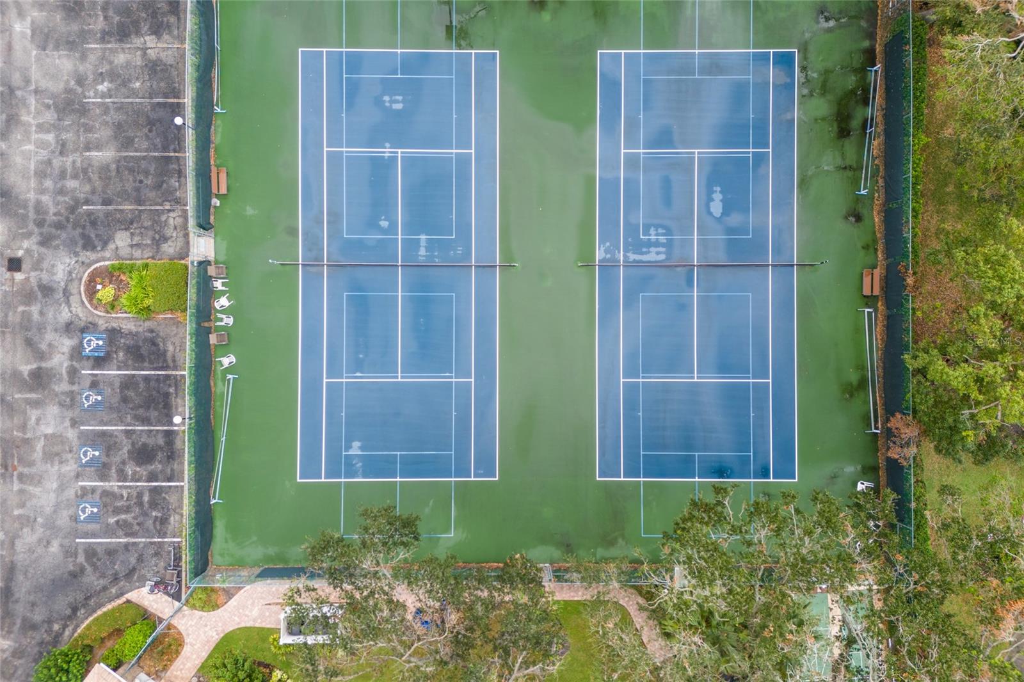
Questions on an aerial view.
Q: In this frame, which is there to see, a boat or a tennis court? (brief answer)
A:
tennis court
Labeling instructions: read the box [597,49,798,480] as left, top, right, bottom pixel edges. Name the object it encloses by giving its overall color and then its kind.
blue tennis court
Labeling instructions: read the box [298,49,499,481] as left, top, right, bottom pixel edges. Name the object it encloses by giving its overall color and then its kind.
blue tennis court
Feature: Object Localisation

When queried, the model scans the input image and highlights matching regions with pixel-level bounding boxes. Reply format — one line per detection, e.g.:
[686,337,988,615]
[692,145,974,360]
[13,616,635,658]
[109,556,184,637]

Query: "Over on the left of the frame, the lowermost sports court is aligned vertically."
[341,293,456,536]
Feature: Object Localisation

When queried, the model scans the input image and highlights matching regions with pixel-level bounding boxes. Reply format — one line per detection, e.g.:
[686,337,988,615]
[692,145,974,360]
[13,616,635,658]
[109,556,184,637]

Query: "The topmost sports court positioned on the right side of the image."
[640,0,754,238]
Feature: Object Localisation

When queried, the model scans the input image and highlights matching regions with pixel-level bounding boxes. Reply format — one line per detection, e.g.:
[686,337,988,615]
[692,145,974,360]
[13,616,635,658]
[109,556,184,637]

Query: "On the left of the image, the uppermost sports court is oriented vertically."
[342,0,457,237]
